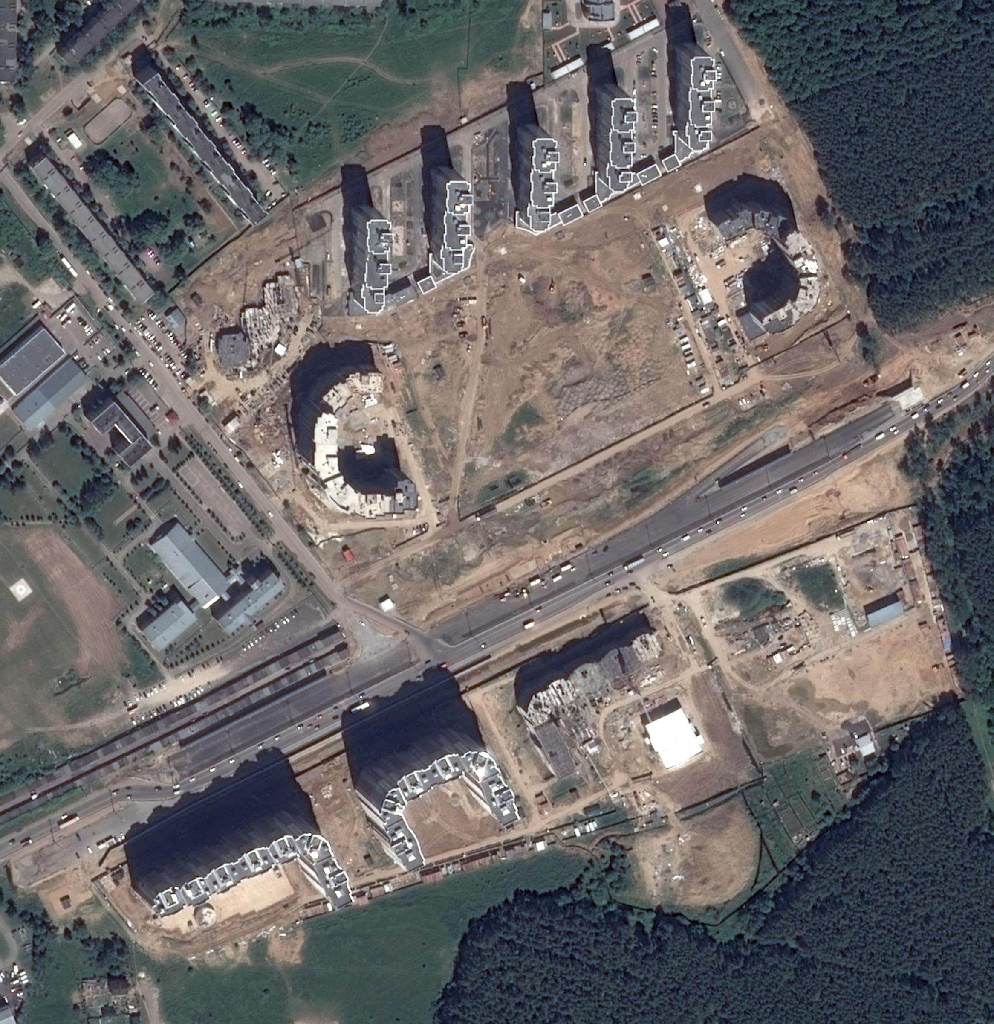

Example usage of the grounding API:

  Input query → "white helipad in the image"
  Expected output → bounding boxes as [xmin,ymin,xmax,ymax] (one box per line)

[9,578,32,602]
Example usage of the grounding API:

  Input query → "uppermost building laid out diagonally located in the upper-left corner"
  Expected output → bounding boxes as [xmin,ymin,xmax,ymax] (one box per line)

[57,0,140,67]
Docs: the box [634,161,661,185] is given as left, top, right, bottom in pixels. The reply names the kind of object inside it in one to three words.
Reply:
building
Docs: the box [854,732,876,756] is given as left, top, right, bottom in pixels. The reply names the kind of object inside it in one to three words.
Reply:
house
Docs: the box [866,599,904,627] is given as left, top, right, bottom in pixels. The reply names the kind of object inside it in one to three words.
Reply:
shed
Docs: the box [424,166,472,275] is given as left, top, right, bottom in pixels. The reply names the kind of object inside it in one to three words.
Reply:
building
